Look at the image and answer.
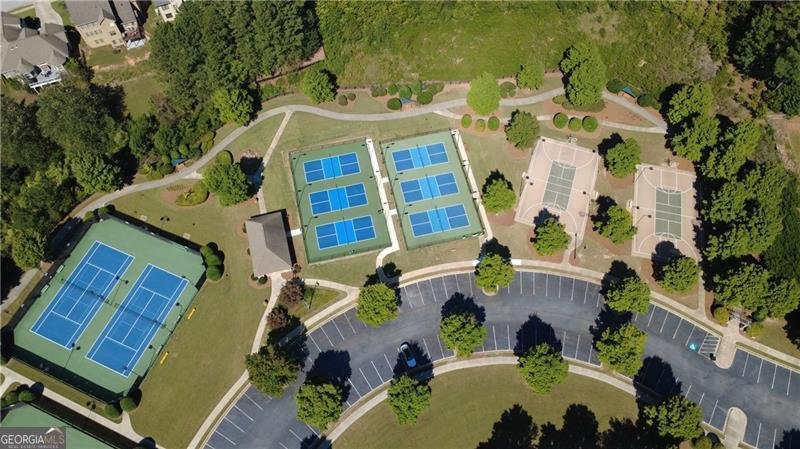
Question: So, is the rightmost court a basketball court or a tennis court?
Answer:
basketball court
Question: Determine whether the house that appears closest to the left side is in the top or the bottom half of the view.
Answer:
top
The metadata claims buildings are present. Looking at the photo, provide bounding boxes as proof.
[0,15,77,89]
[75,0,156,56]
[153,0,184,23]
[245,212,293,277]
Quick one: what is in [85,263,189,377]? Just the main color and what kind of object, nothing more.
blue tennis court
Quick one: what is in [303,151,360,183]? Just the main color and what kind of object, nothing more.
blue sports court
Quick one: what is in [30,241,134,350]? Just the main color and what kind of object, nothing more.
blue tennis court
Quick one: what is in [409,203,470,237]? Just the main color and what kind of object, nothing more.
blue sports court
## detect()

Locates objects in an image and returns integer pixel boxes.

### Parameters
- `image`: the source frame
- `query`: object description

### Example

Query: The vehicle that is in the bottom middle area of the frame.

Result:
[401,345,416,365]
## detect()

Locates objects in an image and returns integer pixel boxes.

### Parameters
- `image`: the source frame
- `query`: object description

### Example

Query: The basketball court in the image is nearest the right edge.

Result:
[628,162,704,271]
